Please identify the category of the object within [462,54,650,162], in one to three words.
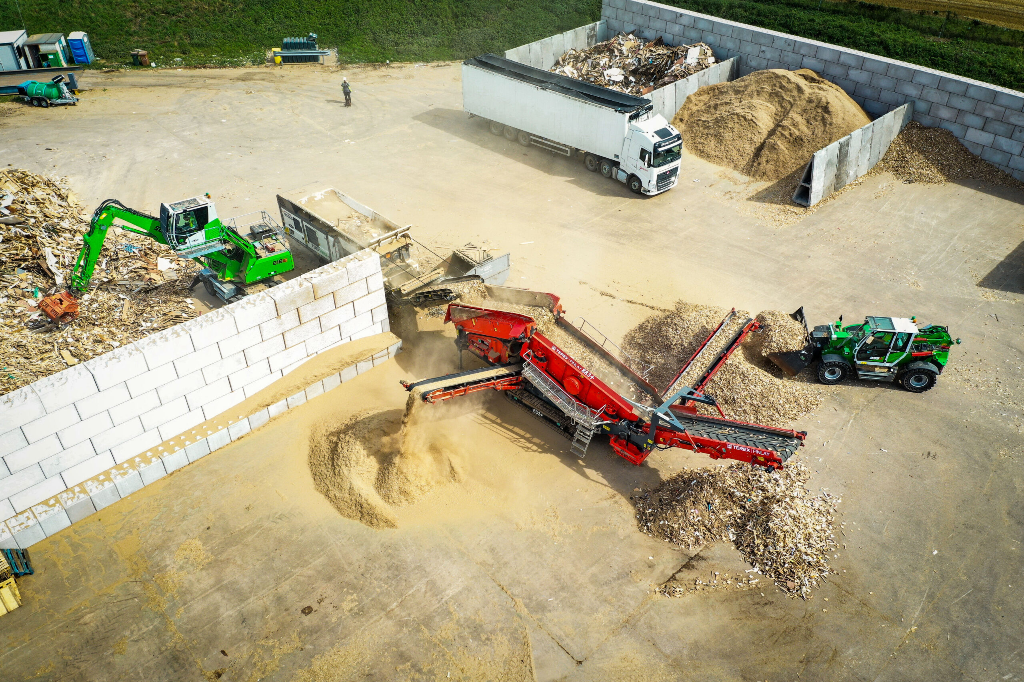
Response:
trailer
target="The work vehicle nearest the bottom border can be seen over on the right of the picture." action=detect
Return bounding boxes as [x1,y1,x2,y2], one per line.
[767,306,965,391]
